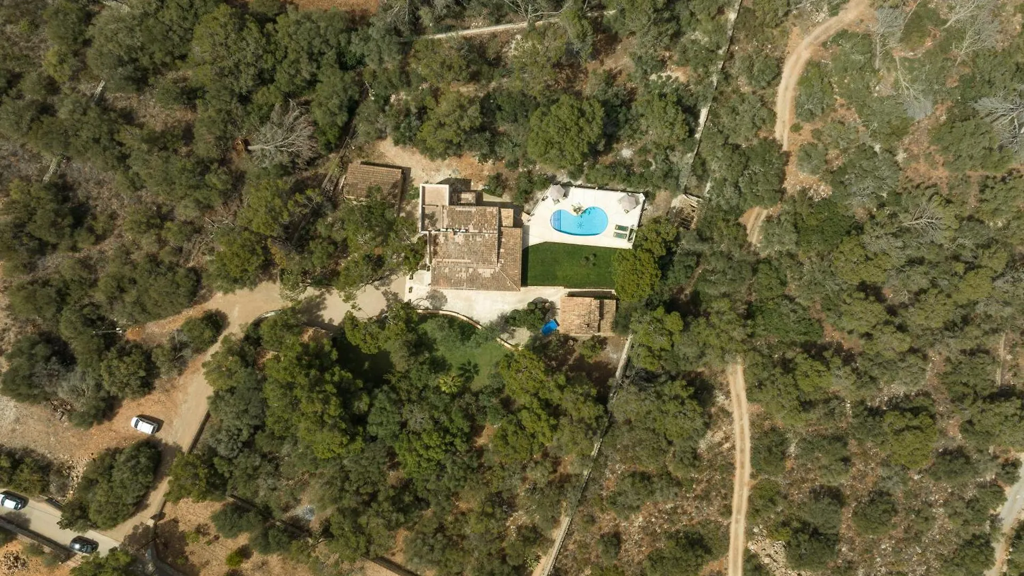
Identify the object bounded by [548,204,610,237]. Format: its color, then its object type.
blue swimming pool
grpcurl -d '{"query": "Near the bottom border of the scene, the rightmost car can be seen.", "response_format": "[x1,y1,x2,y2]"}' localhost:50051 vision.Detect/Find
[70,534,100,553]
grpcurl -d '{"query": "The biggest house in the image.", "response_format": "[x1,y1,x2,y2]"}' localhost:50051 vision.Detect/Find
[420,184,523,292]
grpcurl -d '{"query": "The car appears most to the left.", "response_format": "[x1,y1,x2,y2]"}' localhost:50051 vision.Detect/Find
[0,491,26,511]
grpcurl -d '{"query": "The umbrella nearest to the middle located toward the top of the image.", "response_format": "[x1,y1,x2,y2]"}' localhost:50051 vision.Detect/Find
[548,183,565,201]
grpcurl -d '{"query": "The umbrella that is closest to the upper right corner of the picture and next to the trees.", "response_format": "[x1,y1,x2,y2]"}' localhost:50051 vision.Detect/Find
[619,193,638,211]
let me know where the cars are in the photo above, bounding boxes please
[130,415,160,435]
[70,534,100,553]
[0,491,26,511]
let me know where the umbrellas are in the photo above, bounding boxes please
[619,193,638,211]
[548,183,565,201]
